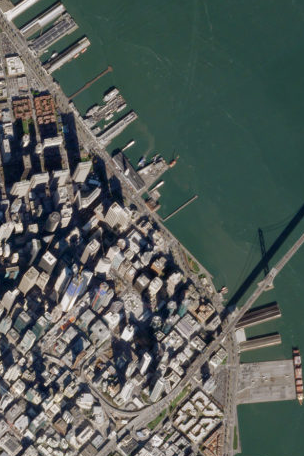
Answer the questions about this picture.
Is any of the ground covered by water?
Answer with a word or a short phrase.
Yes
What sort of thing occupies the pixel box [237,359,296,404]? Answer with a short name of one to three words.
pier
